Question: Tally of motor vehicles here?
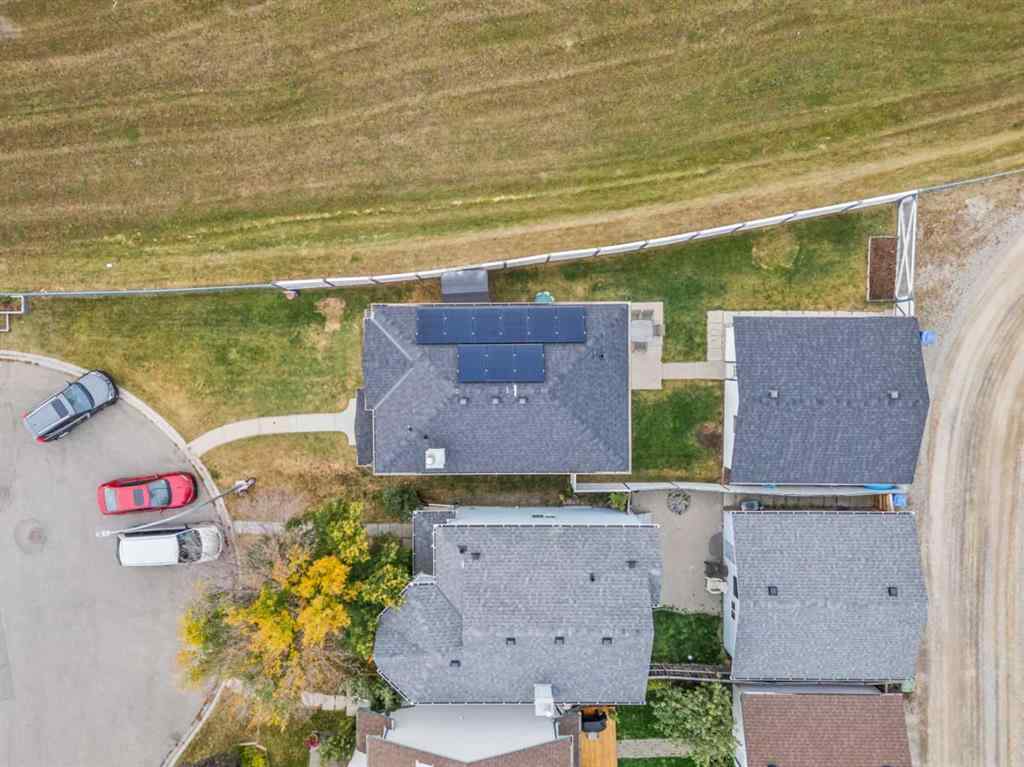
three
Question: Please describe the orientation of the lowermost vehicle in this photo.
from left to right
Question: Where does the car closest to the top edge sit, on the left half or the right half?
left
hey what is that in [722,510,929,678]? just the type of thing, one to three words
building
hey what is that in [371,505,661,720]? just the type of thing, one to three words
house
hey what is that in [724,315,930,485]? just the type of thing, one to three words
building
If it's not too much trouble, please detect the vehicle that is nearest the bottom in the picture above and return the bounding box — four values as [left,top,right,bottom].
[118,522,223,569]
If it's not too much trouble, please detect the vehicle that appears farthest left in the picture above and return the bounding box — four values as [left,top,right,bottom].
[23,373,122,441]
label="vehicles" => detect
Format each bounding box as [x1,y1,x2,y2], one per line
[100,471,200,517]
[118,522,223,569]
[23,373,122,441]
